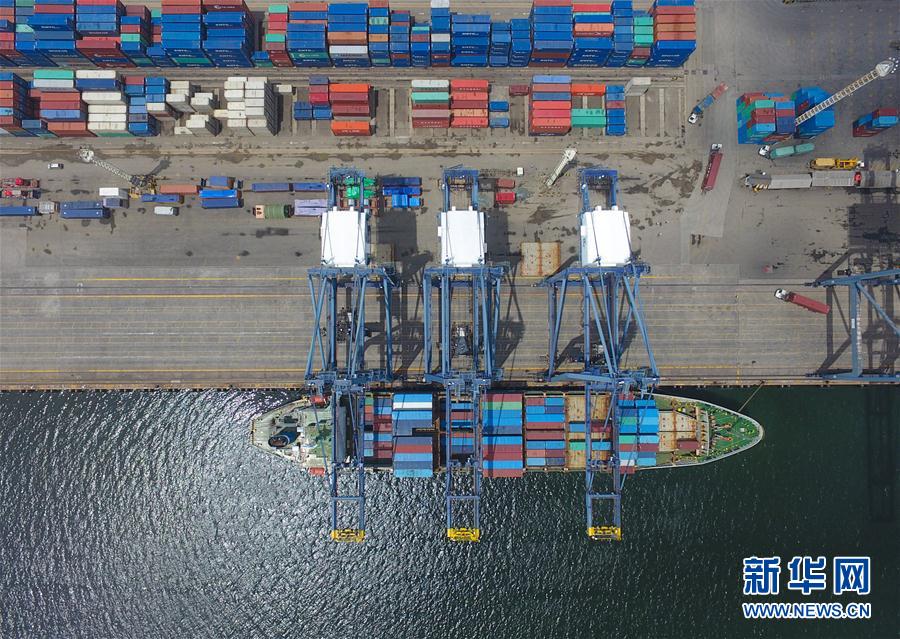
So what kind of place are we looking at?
port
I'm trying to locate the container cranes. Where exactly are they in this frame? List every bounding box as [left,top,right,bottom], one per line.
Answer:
[804,266,900,383]
[523,166,655,543]
[410,168,510,544]
[304,169,417,545]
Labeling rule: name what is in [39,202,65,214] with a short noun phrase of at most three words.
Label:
vehicle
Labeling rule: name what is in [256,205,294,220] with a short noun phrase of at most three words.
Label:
vehicle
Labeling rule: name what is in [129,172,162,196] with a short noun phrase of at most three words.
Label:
work vehicle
